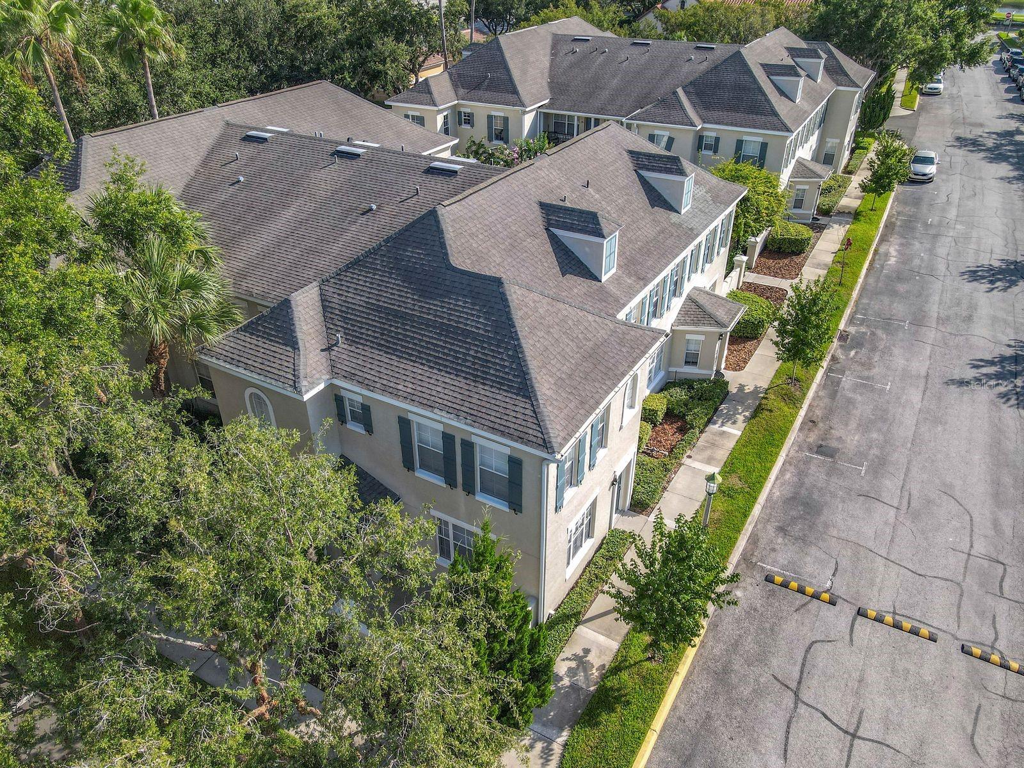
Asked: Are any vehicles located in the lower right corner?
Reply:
No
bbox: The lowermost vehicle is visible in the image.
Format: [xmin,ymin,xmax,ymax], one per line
[911,151,943,179]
